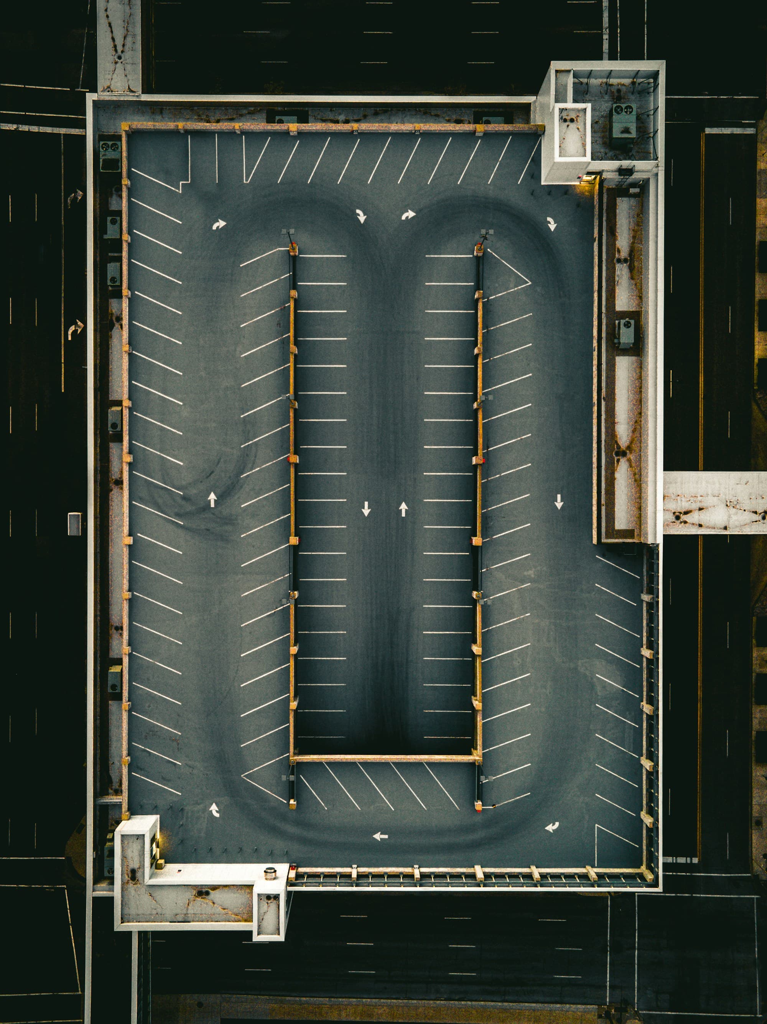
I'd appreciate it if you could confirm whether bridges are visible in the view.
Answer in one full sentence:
Yes, the photo shows a bridge.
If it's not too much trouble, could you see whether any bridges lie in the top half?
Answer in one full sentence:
Yes, a bridge appears in the top half.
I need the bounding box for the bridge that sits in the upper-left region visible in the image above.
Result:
[97,0,150,101]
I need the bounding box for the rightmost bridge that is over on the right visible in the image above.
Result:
[664,472,767,534]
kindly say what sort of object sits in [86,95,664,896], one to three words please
building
